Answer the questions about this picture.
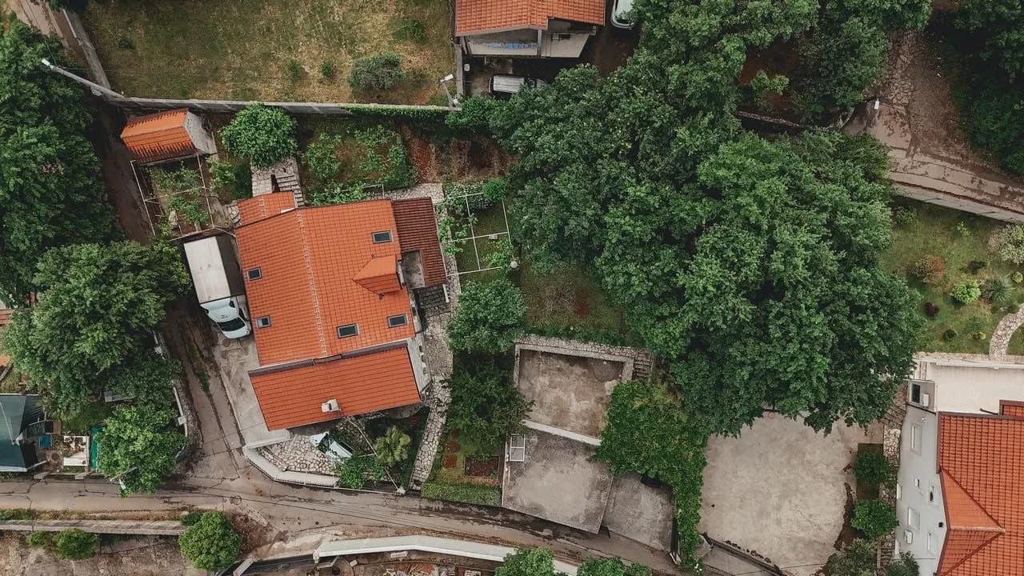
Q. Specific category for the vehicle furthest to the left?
truck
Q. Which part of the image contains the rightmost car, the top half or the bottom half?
top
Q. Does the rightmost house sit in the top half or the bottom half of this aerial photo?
bottom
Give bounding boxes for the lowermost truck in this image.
[183,234,252,345]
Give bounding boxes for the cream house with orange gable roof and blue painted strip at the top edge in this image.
[455,0,605,67]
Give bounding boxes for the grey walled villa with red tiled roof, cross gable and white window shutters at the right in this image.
[894,361,1024,576]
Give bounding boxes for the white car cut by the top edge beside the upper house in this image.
[608,0,641,35]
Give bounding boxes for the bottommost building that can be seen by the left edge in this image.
[0,392,55,473]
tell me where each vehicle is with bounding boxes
[183,234,252,345]
[608,0,641,35]
[487,66,551,98]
